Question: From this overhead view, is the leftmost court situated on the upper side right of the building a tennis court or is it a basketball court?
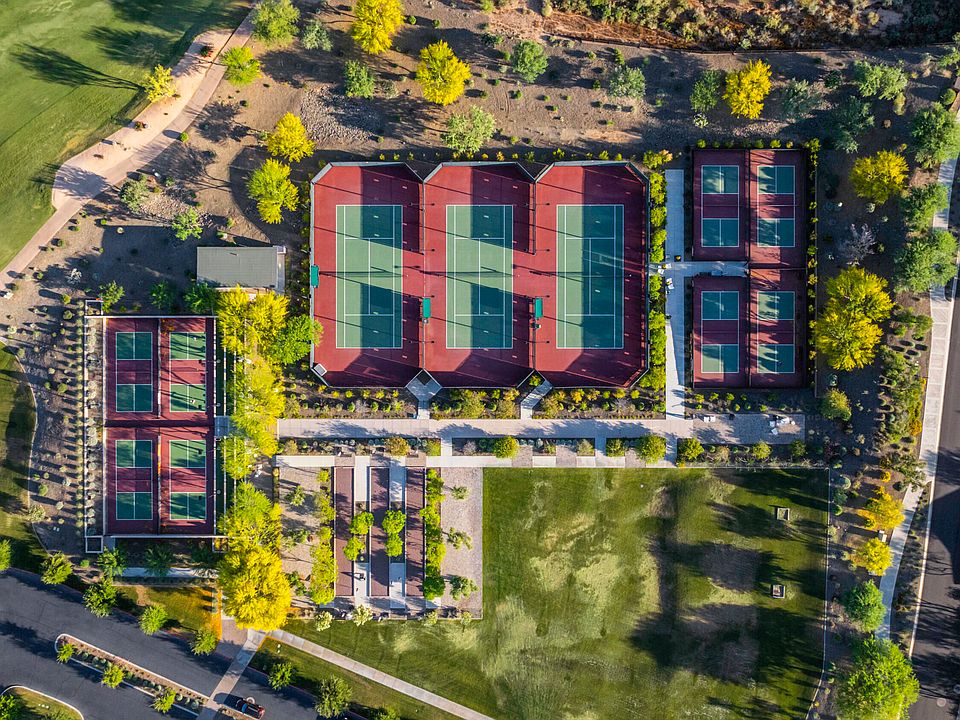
tennis court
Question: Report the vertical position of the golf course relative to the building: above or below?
above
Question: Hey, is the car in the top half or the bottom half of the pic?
bottom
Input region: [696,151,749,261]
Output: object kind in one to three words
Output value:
sports court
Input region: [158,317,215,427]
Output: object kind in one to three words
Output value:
sports court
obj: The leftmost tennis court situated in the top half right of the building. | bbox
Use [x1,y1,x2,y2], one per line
[314,167,425,387]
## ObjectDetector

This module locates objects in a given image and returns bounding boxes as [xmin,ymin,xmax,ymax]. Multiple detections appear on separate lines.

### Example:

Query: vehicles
[236,698,268,720]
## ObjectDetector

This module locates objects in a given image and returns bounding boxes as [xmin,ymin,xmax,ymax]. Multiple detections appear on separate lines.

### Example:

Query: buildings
[196,246,286,291]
